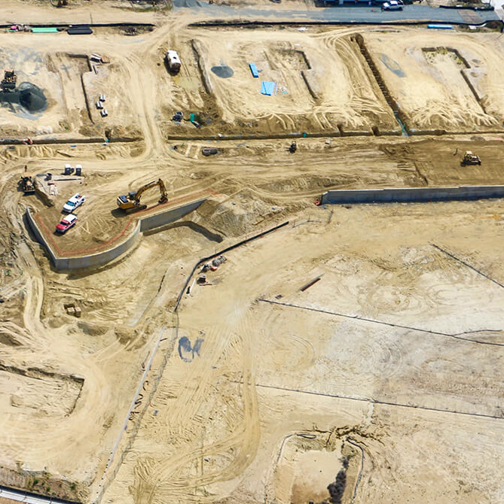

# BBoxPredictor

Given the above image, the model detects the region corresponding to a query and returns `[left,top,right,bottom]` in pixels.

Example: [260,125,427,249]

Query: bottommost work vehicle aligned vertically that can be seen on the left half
[21,169,36,195]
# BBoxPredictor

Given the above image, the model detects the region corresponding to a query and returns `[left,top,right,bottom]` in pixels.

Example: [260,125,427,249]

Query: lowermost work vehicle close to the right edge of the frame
[462,150,482,165]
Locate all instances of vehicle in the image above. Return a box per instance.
[21,169,36,195]
[165,51,182,71]
[393,0,414,5]
[3,67,14,89]
[54,213,78,231]
[118,176,165,216]
[381,1,402,10]
[62,196,85,211]
[288,139,298,151]
[462,150,482,165]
